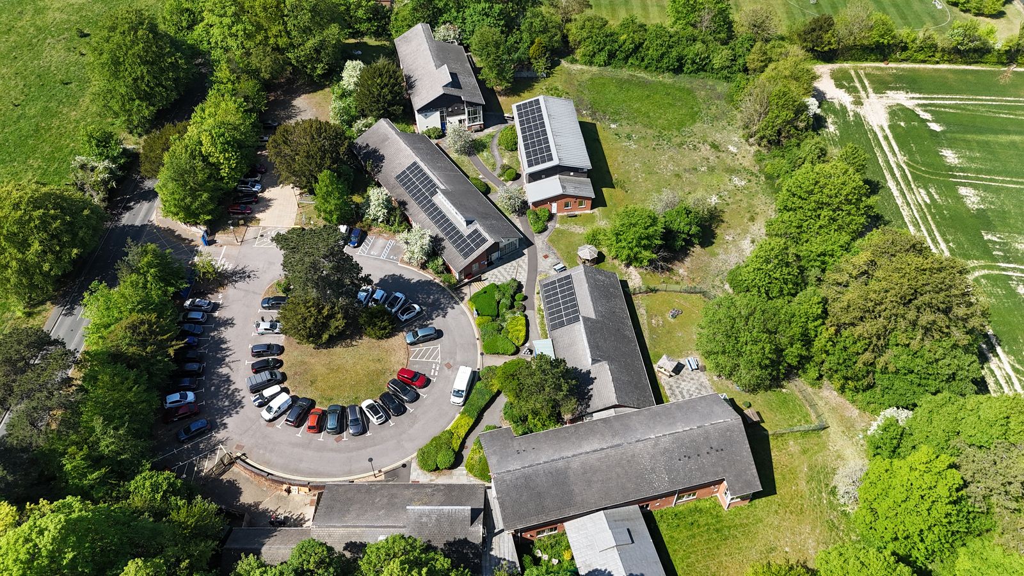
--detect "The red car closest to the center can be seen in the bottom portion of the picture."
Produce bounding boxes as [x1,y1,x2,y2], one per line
[396,365,428,388]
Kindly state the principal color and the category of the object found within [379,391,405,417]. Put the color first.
black car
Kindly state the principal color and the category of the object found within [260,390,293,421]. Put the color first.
white van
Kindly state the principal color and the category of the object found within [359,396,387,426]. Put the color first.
white car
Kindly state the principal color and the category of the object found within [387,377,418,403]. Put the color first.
black car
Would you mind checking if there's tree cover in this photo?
Yes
